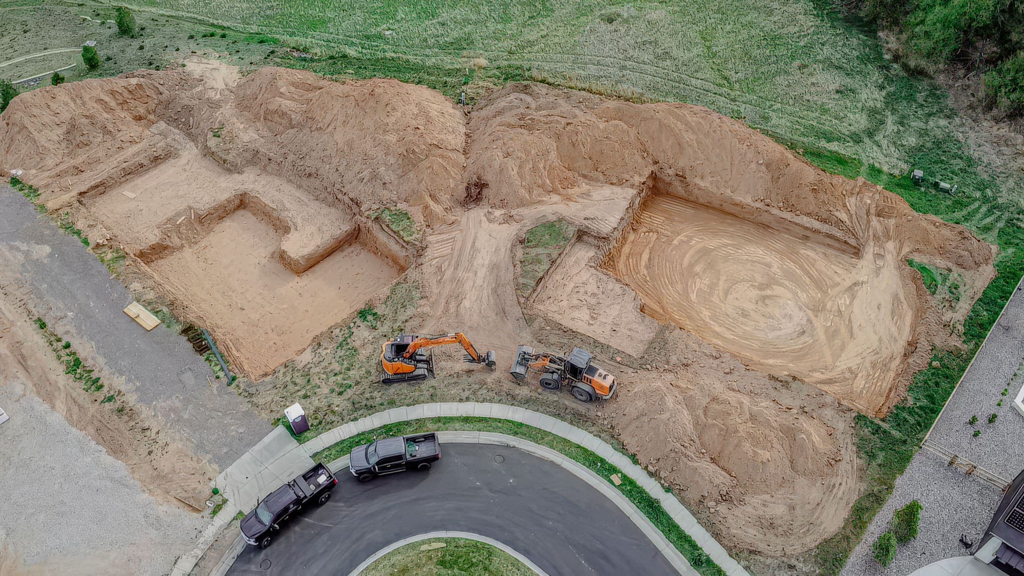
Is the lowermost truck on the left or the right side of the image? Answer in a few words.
left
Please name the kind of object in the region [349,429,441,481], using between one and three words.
truck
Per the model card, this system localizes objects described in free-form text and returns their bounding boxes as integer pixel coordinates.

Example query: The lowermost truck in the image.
[236,464,334,553]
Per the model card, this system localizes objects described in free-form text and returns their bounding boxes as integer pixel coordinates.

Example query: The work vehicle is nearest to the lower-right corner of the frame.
[509,346,616,403]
